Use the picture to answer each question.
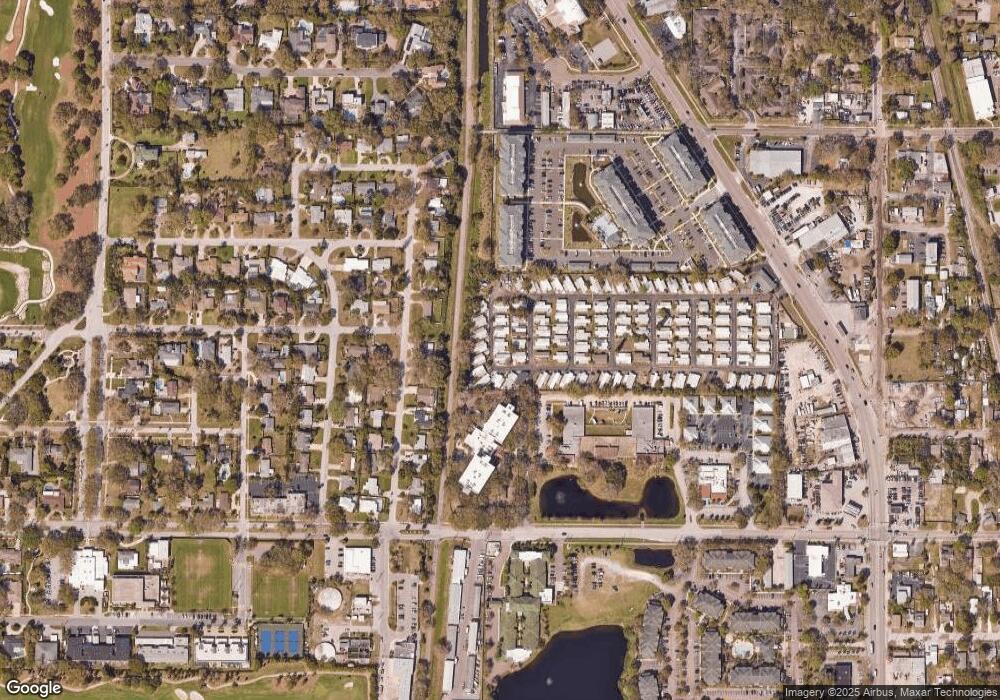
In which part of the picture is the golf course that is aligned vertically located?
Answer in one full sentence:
The golf course that is aligned vertically is in the top left part of the image.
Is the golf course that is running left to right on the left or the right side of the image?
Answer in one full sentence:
The golf course that is running left to right is on the left side of the image.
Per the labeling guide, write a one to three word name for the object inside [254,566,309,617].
sports field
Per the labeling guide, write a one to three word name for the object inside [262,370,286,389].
house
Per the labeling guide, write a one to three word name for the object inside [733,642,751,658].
swimming pool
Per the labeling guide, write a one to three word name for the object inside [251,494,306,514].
building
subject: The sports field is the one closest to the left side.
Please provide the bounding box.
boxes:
[174,540,231,611]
